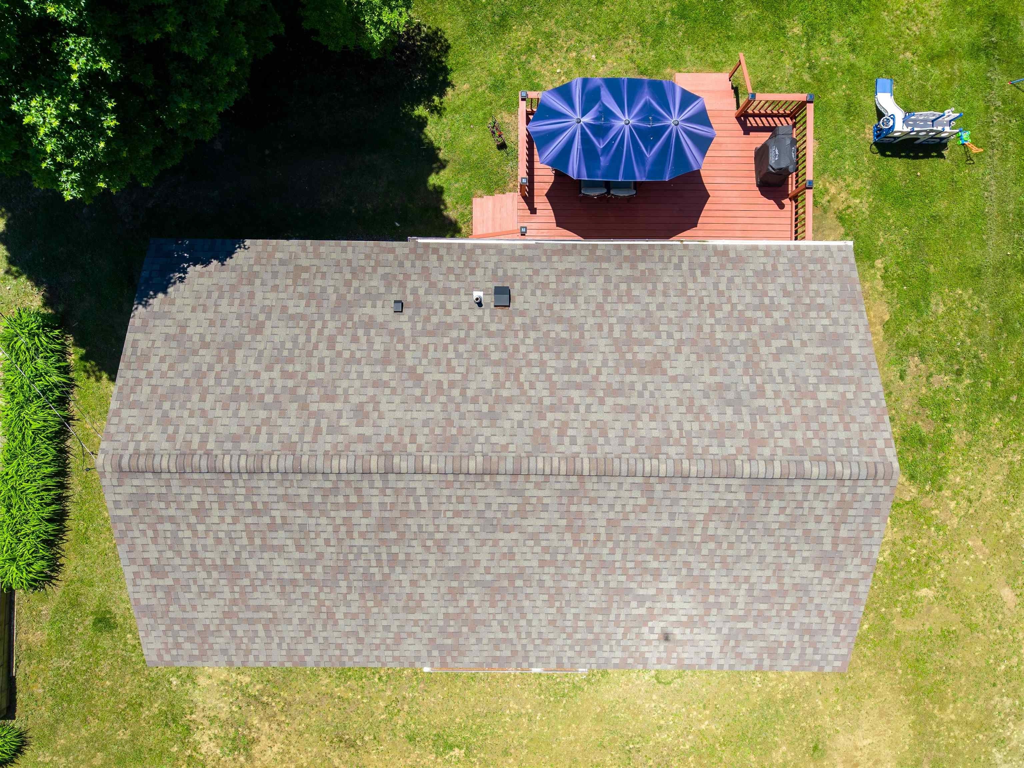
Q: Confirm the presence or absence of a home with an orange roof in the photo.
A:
No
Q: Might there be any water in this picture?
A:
No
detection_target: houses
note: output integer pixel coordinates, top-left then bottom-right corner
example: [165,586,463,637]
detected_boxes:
[84,236,900,674]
